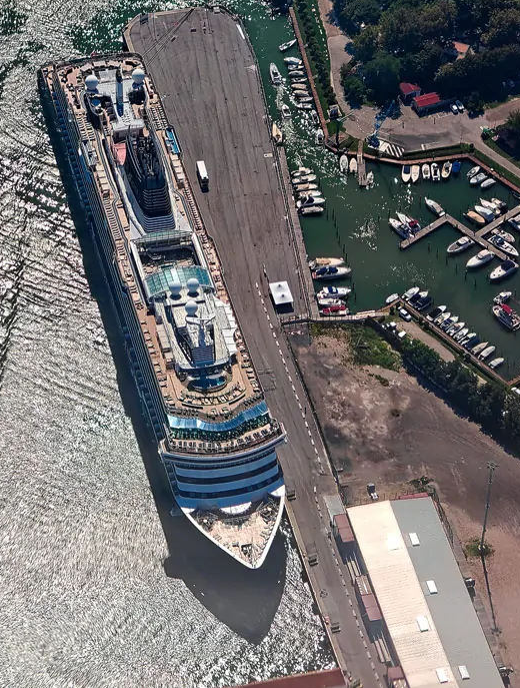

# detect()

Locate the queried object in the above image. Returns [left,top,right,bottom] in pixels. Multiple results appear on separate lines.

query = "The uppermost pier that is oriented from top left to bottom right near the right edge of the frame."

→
[445,215,510,262]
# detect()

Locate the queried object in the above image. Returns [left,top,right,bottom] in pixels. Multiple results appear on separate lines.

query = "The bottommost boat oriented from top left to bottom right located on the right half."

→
[494,304,520,333]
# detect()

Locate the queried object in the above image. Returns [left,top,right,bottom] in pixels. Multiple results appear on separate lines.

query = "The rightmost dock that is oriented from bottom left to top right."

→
[474,203,520,237]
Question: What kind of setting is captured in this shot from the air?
port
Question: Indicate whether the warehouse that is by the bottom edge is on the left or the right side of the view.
right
